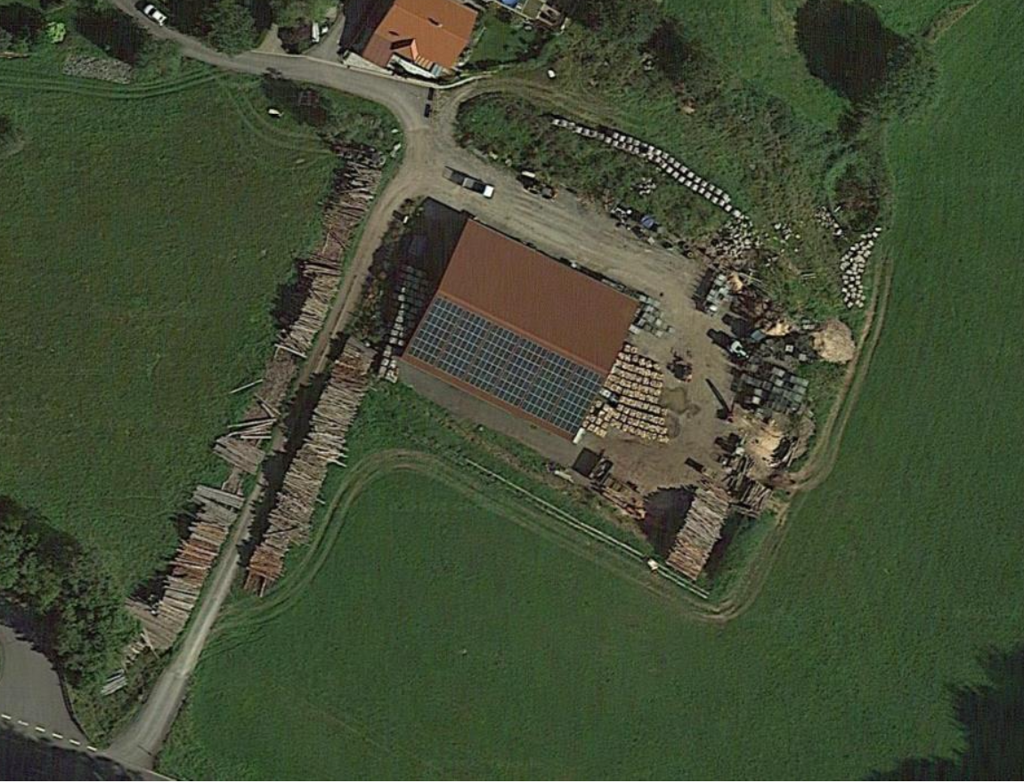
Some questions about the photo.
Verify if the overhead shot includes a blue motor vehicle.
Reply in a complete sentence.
No, the photo shows no blue motor vehicle.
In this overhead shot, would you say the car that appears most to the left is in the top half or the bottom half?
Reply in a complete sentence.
Seen from above, the car that appears most to the left lies in the top half of the view.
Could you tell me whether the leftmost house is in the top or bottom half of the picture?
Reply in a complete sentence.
It is in the top half that the leftmost house appears.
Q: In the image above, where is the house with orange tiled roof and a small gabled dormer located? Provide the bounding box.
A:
[369,0,478,68]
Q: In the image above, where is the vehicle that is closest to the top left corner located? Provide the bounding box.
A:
[142,4,168,25]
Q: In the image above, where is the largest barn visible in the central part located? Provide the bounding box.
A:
[402,218,639,440]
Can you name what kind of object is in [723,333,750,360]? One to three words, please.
work vehicle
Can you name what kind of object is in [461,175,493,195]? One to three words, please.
vehicle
